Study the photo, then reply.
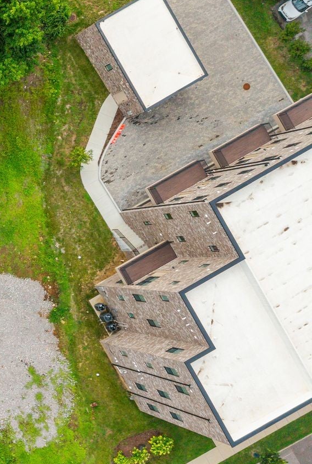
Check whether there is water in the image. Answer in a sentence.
No, the scene doesn't show any water.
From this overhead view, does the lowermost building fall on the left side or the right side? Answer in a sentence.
It is on the right.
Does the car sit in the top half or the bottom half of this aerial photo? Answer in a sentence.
The top half of the photo is where the car is.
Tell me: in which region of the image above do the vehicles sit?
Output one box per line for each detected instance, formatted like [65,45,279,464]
[270,0,312,29]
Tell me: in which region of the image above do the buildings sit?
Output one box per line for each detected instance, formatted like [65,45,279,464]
[96,87,312,448]
[76,0,209,118]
